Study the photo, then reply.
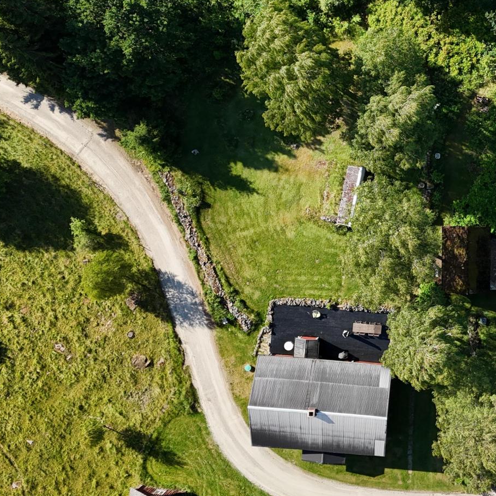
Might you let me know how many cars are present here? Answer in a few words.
zero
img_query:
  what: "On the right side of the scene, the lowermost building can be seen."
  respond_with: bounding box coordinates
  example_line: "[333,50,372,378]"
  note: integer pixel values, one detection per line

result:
[247,335,393,468]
